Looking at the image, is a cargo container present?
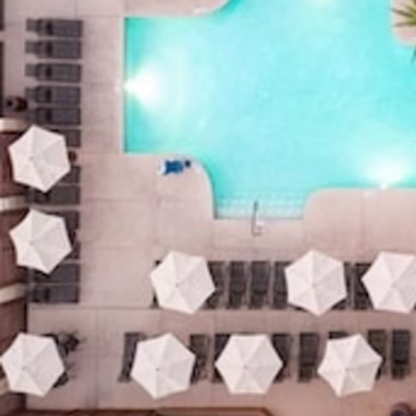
No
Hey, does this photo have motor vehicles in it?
No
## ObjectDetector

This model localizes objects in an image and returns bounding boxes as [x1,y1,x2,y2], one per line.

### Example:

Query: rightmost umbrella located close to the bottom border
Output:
[318,332,383,396]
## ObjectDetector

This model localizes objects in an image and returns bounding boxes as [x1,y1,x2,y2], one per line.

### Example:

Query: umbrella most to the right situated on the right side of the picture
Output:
[363,251,416,314]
